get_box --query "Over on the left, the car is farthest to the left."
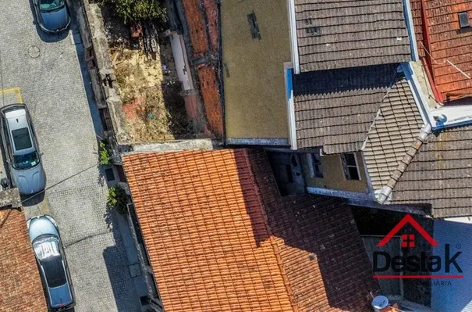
[0,102,47,198]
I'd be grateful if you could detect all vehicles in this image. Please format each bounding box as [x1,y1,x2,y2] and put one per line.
[31,0,69,33]
[26,213,80,312]
[0,102,47,198]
